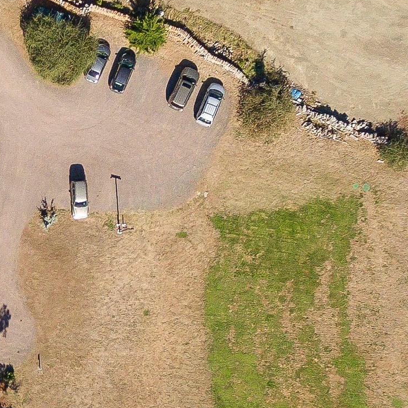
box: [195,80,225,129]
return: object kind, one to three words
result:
car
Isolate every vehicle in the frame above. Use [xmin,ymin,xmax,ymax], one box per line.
[195,80,225,129]
[167,63,197,112]
[84,40,112,84]
[110,47,137,95]
[67,178,90,222]
[32,0,74,21]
